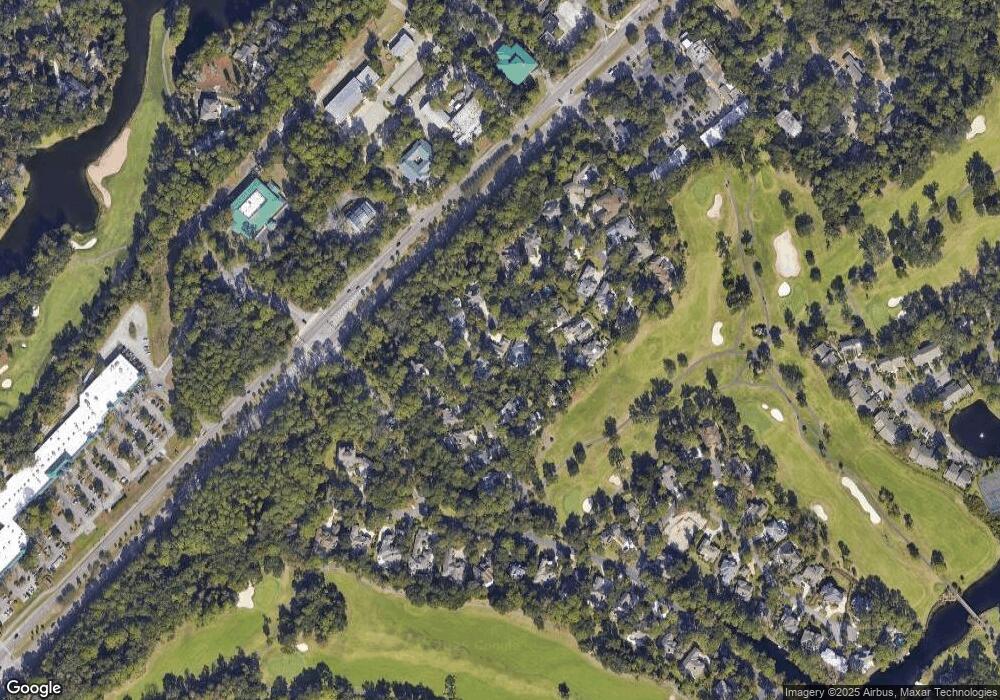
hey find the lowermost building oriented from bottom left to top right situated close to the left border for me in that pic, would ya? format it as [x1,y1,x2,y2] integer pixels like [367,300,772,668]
[0,354,141,578]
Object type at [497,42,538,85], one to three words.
building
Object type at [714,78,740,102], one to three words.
building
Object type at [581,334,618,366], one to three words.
house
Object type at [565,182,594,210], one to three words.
house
